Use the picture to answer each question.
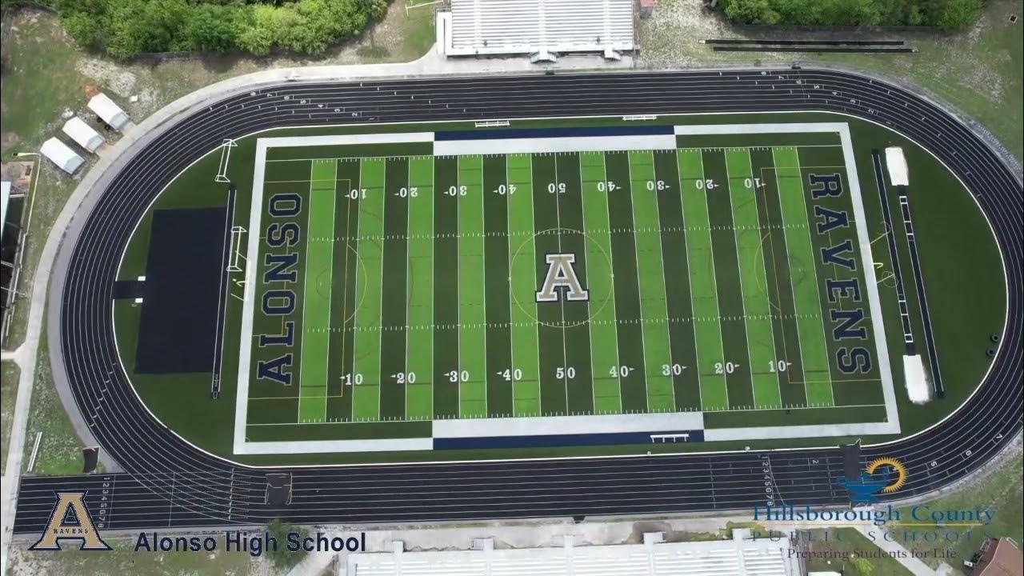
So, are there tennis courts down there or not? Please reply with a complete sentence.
No, this view has no tennis court in it.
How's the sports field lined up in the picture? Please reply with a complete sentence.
Seen from above, the sports field lies from side to side.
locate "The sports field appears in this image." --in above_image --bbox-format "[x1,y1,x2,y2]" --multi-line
[235,120,902,456]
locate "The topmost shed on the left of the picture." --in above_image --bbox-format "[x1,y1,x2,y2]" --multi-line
[84,90,133,132]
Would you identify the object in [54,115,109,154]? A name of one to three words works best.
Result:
shed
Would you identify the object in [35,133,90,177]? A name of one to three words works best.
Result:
shed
